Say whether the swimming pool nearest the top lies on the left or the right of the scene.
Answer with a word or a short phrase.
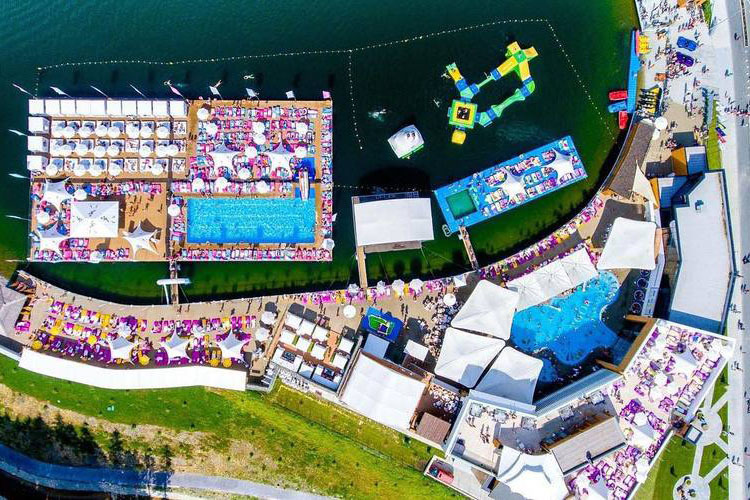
left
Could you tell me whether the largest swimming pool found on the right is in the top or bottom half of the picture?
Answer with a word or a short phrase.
bottom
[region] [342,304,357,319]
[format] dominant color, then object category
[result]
white umbrella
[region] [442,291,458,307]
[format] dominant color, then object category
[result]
white umbrella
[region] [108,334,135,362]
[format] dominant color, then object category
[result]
white tent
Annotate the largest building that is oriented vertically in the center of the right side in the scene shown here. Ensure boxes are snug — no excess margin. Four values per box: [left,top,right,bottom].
[667,170,736,332]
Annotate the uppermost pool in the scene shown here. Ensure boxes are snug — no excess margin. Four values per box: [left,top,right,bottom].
[187,198,317,243]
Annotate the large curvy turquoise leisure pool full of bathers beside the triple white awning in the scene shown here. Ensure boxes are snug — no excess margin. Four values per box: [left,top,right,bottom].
[511,269,621,383]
